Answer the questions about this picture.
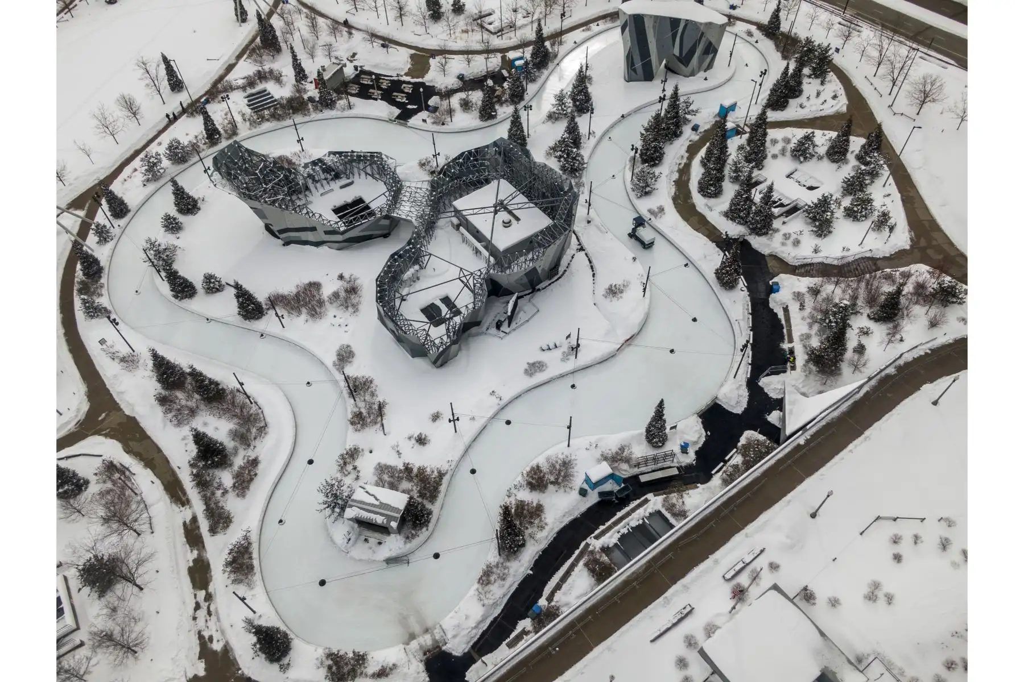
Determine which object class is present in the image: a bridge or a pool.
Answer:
bridge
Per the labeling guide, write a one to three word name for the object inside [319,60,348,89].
building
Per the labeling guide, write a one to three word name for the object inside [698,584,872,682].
building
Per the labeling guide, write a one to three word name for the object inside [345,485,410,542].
shed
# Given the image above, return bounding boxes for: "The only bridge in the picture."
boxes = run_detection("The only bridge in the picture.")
[388,180,429,219]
